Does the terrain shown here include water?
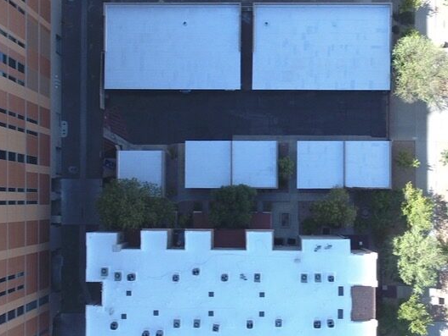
No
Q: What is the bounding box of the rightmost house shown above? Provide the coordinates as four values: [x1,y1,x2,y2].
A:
[343,140,391,189]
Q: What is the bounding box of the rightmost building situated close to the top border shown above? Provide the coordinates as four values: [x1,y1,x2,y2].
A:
[253,2,391,94]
